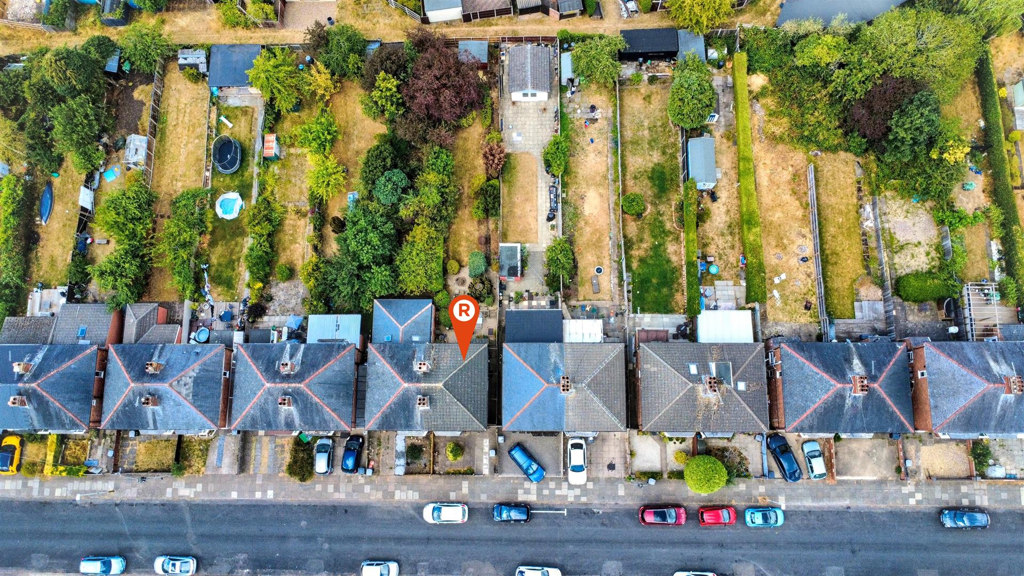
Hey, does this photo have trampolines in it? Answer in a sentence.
Yes, the picture does show a trampoline.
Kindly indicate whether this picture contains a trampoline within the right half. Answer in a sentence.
No, there's no trampoline to be seen within the right half.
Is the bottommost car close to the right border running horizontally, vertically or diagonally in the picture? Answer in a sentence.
In this picture, the bottommost car close to the right border is oriented horizontally.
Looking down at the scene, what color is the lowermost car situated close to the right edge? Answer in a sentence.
In this view, the lowermost car situated close to the right edge is blue.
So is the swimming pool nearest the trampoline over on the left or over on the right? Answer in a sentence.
You can find the swimming pool nearest the trampoline on the left side of the picture.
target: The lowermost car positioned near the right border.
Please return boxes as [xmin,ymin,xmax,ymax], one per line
[936,506,989,531]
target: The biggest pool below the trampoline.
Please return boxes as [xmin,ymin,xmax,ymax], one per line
[215,191,245,219]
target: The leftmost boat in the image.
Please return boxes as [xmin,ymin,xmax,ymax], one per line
[38,181,55,226]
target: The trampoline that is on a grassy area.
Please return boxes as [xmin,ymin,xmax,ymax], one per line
[207,129,241,174]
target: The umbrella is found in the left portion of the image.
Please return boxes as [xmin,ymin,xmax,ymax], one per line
[285,313,304,332]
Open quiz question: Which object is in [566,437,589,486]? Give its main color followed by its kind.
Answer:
white car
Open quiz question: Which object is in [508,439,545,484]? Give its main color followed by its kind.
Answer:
blue car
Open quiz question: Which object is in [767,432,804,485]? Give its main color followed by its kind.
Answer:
blue car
